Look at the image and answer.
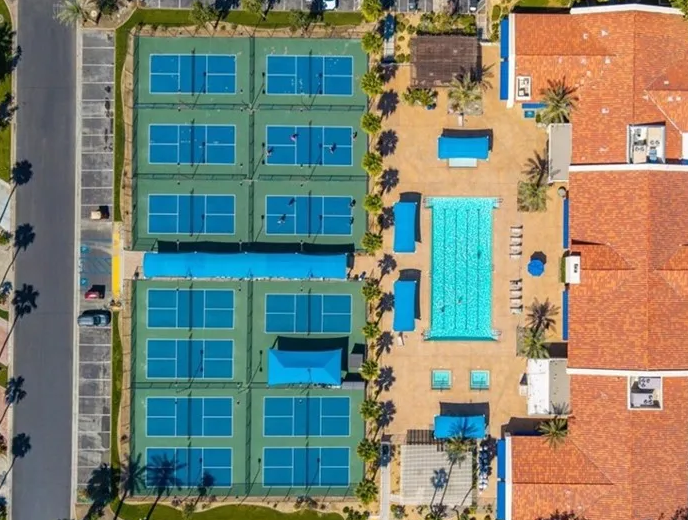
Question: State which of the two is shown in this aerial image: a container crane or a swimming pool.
swimming pool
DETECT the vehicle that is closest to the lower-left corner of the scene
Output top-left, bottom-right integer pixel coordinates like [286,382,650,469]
[76,313,108,327]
